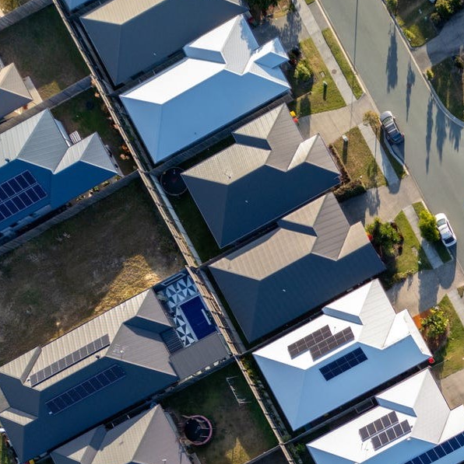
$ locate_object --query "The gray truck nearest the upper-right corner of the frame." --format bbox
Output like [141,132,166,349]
[377,103,406,148]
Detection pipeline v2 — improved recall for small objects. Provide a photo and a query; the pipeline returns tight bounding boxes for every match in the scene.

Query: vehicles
[377,103,406,148]
[430,209,458,248]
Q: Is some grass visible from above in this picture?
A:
Yes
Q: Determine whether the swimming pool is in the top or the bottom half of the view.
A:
bottom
